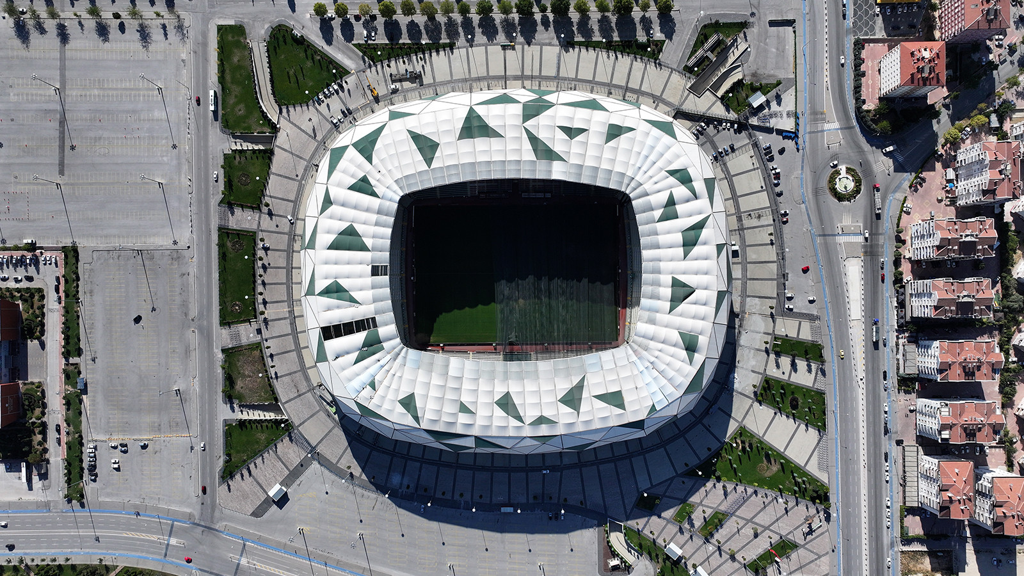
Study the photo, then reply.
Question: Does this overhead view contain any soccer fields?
Yes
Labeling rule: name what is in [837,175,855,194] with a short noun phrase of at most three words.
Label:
fountain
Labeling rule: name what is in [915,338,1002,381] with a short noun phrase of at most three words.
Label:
building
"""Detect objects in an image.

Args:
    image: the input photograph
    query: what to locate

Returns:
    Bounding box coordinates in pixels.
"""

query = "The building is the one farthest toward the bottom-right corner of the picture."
[970,469,1024,535]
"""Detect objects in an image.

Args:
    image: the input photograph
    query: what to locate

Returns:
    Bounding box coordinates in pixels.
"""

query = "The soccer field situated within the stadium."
[407,196,627,352]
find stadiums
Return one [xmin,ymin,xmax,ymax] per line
[300,88,733,455]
